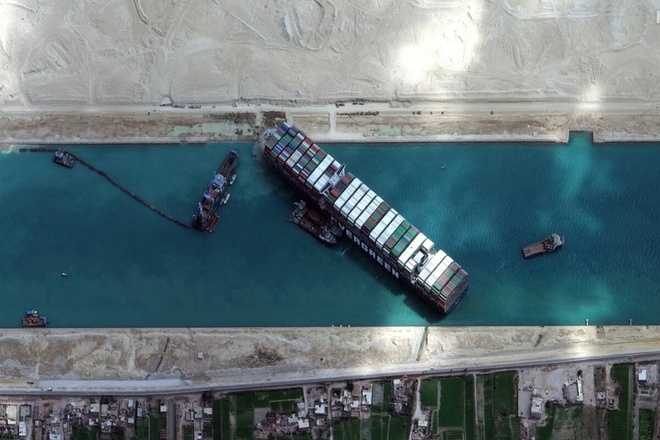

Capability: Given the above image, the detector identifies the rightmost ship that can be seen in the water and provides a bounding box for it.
[521,233,563,258]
